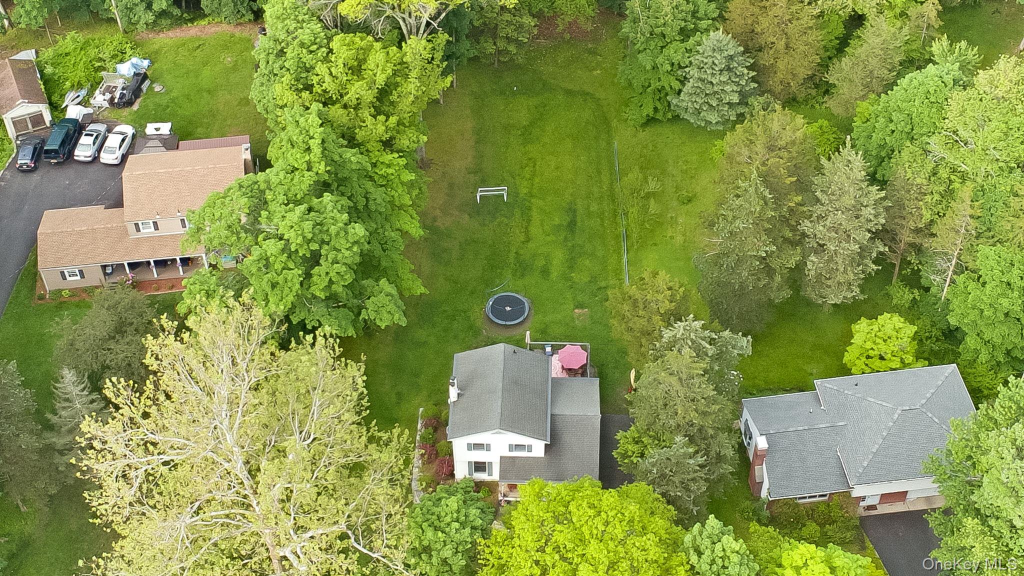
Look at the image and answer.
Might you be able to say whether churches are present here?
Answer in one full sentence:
No, I can see no church in this picture.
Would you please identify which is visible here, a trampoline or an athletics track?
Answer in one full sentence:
I can see a trampoline in this picture.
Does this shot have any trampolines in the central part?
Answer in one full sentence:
Yes, you'll find a trampoline in the central part.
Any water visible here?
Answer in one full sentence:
No, there's no water in this view.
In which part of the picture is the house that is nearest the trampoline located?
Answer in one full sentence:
Look in the bottom portion of the view to spot the house that is nearest the trampoline.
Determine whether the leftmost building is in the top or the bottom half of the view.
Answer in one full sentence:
The leftmost building sits in the top half of the picture.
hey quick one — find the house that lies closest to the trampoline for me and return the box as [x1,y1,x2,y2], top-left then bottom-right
[445,342,599,502]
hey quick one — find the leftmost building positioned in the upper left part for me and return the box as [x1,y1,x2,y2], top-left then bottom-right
[0,50,51,133]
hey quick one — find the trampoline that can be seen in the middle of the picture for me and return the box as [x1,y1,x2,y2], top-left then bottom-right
[486,278,530,325]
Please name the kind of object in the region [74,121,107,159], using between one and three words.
car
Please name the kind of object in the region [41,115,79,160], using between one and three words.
truck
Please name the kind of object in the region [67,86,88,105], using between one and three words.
boat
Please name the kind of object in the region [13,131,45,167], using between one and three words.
car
